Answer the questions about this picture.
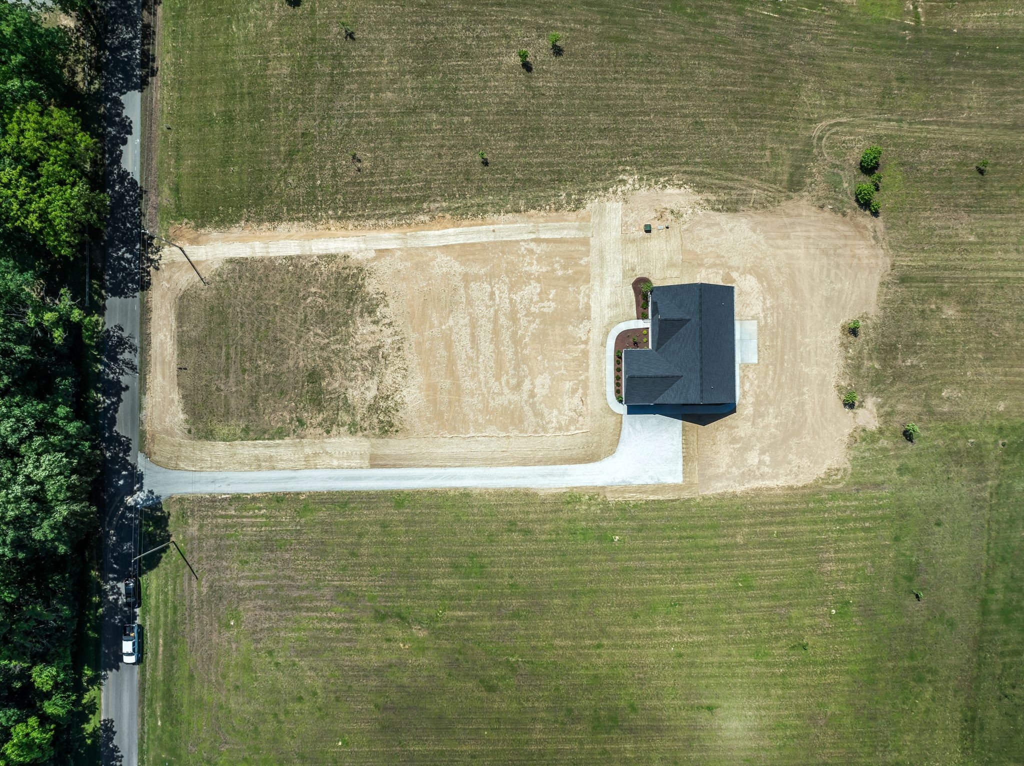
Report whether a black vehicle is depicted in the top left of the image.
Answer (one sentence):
No, no black vehicle is visible in the top left of the image.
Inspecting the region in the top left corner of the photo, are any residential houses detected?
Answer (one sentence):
No, the scene shows no residential house in the top left corner of the photo.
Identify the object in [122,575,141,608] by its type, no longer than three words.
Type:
car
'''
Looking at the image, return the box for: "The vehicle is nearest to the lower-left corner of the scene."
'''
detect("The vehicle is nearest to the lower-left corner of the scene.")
[121,623,142,666]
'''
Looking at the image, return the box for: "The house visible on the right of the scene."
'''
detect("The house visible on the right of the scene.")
[623,283,736,405]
